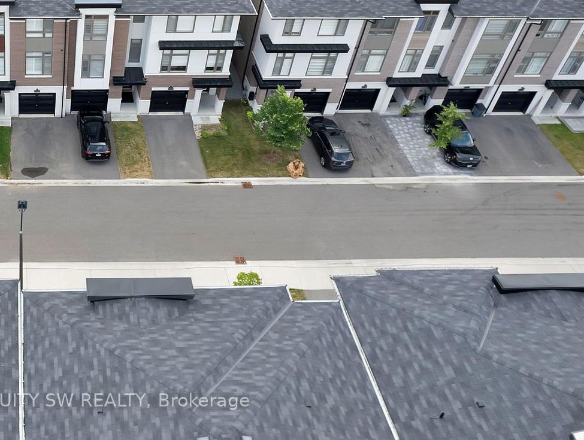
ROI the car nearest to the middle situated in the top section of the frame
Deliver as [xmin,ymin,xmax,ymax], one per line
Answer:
[305,113,354,165]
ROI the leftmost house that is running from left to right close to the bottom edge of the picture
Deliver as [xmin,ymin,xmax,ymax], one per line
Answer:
[19,276,395,440]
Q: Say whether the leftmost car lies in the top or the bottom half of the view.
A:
top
